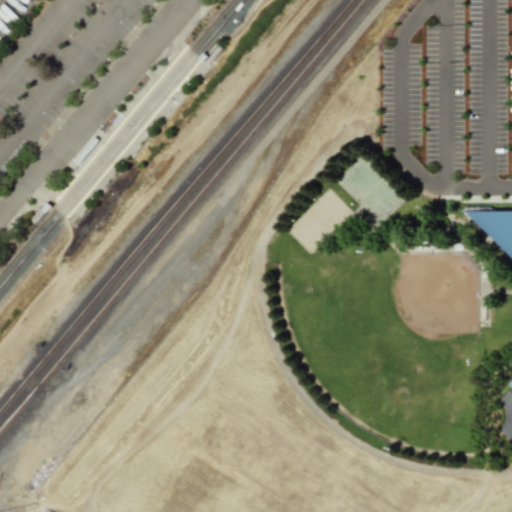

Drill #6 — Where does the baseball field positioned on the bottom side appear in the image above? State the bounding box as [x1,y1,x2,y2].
[281,249,482,453]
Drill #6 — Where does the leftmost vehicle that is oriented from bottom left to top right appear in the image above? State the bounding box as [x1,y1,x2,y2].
[34,200,54,223]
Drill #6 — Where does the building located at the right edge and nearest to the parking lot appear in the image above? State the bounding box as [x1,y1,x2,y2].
[466,210,512,258]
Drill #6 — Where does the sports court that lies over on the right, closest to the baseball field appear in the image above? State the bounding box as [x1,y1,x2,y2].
[290,188,354,254]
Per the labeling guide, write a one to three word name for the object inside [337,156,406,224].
basketball court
